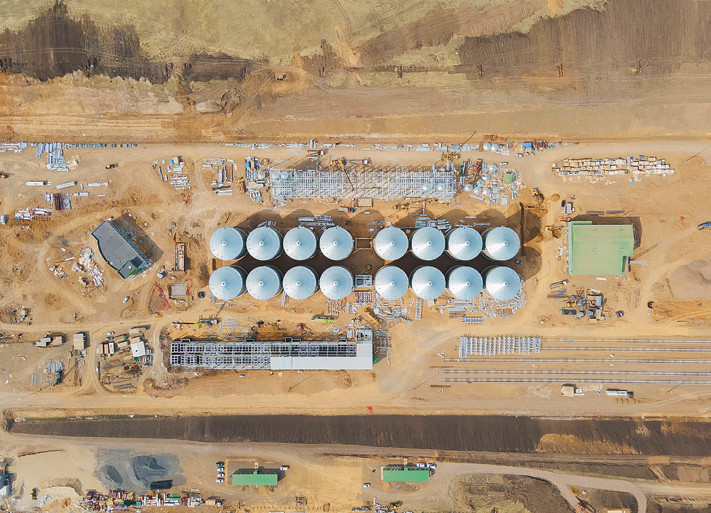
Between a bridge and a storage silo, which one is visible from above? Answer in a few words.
storage silo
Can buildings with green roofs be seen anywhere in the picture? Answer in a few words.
Yes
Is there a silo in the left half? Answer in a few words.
Yes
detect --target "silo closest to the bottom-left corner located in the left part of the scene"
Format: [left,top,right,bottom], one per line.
[209,265,248,301]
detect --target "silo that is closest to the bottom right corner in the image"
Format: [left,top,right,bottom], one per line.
[480,265,520,301]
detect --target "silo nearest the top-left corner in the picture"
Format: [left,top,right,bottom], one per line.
[209,226,248,261]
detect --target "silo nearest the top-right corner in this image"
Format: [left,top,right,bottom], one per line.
[481,226,520,261]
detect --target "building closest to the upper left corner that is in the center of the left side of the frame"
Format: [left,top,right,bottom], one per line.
[92,219,156,281]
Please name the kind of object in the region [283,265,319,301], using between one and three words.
silo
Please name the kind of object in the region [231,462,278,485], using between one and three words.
building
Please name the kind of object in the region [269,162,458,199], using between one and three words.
building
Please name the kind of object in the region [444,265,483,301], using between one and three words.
silo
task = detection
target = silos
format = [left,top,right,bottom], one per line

[283,226,319,261]
[319,265,354,301]
[444,265,483,301]
[209,265,248,301]
[246,265,284,301]
[408,265,446,301]
[246,226,283,261]
[481,226,520,261]
[373,265,408,301]
[408,226,446,261]
[444,226,483,261]
[373,226,408,261]
[480,265,520,301]
[209,226,248,261]
[283,265,319,301]
[319,226,354,261]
